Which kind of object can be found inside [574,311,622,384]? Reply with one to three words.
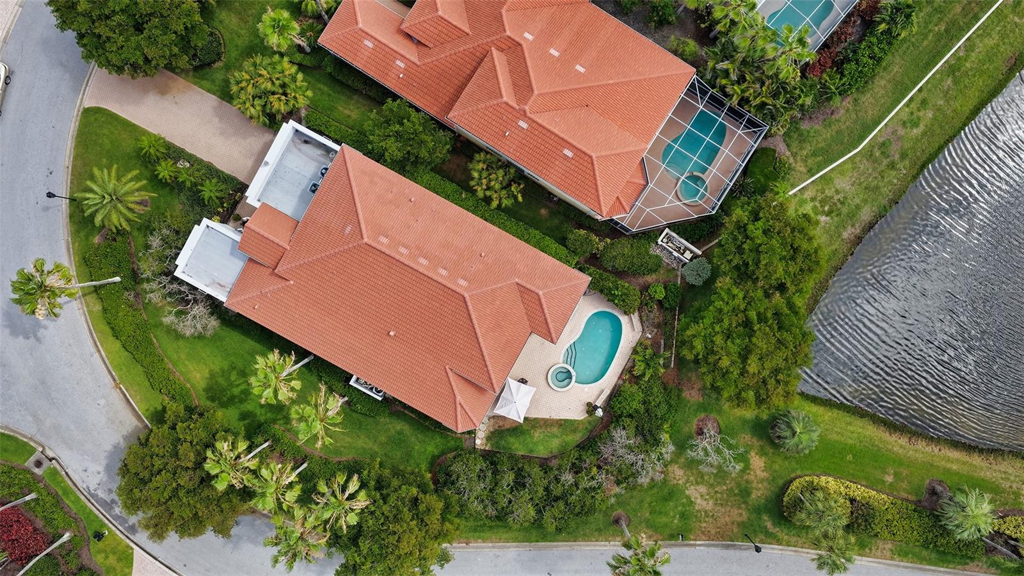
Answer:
swimming pool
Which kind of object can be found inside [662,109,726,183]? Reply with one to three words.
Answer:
swimming pool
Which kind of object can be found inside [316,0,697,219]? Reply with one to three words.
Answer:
house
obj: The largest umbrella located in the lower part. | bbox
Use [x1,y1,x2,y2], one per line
[494,378,536,423]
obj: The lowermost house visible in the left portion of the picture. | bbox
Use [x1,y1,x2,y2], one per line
[174,120,592,433]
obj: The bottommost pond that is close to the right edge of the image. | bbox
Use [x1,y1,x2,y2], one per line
[798,76,1024,452]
